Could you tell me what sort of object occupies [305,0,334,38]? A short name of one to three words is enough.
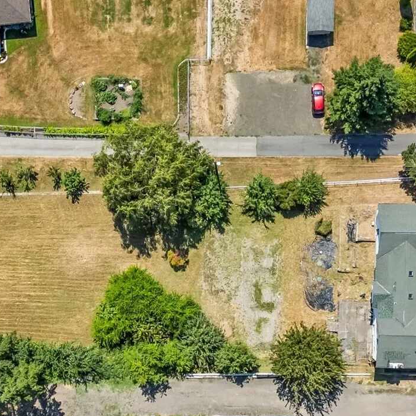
shed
